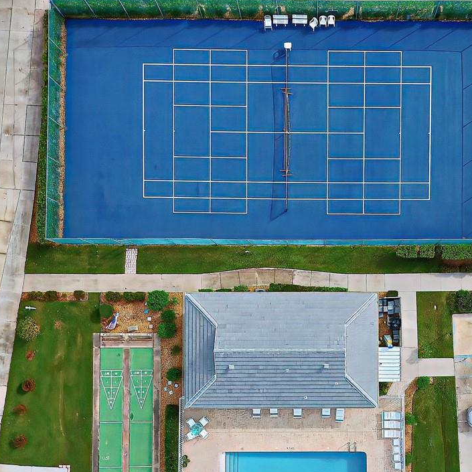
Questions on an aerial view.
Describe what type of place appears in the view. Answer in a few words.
sports ground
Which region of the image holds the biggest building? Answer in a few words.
bottom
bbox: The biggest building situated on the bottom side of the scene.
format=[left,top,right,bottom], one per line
[182,291,380,410]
